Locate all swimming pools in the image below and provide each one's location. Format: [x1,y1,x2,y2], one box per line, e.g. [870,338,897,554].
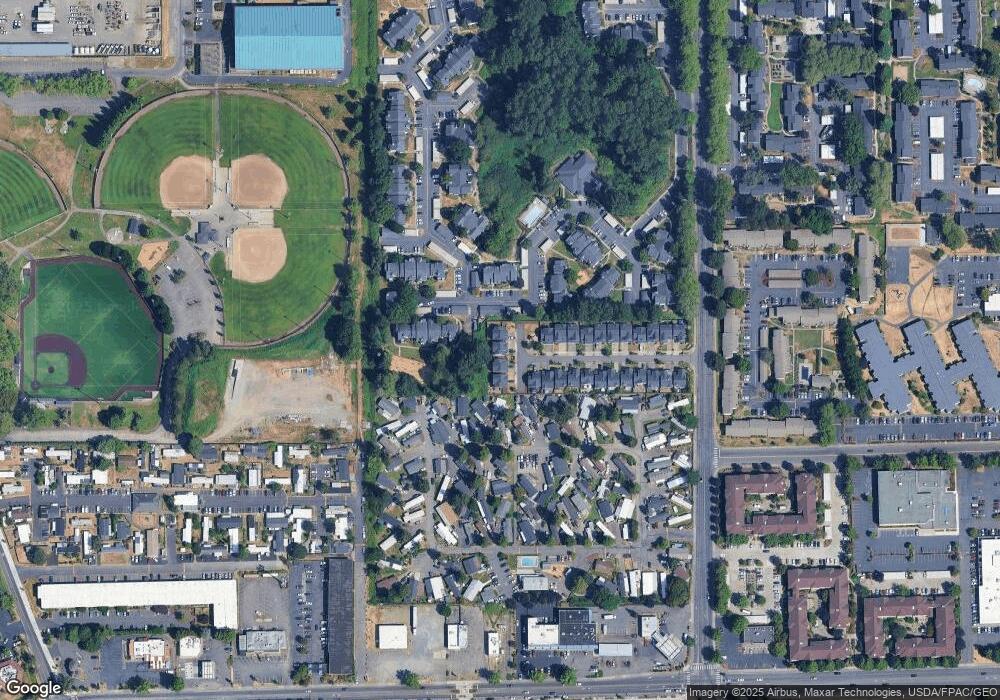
[963,73,986,96]
[519,197,549,227]
[517,556,538,567]
[799,363,812,384]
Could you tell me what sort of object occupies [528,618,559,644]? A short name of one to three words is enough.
building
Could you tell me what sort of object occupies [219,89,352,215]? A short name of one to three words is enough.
baseball field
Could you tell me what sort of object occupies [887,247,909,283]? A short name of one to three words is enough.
basketball court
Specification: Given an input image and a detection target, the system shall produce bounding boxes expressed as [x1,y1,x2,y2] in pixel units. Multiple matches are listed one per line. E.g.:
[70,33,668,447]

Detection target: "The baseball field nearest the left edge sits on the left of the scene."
[0,136,67,243]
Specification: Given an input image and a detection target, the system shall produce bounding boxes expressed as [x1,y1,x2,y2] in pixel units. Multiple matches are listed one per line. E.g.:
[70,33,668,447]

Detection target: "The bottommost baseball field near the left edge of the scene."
[18,256,162,403]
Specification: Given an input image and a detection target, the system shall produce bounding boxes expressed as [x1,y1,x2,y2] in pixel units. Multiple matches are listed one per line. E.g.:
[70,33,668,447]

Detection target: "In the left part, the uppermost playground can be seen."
[139,241,169,269]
